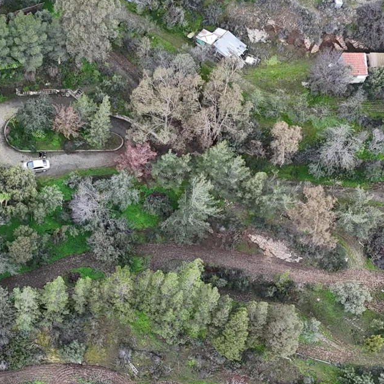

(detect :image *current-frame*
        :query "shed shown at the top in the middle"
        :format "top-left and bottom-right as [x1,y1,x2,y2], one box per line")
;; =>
[195,28,246,64]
